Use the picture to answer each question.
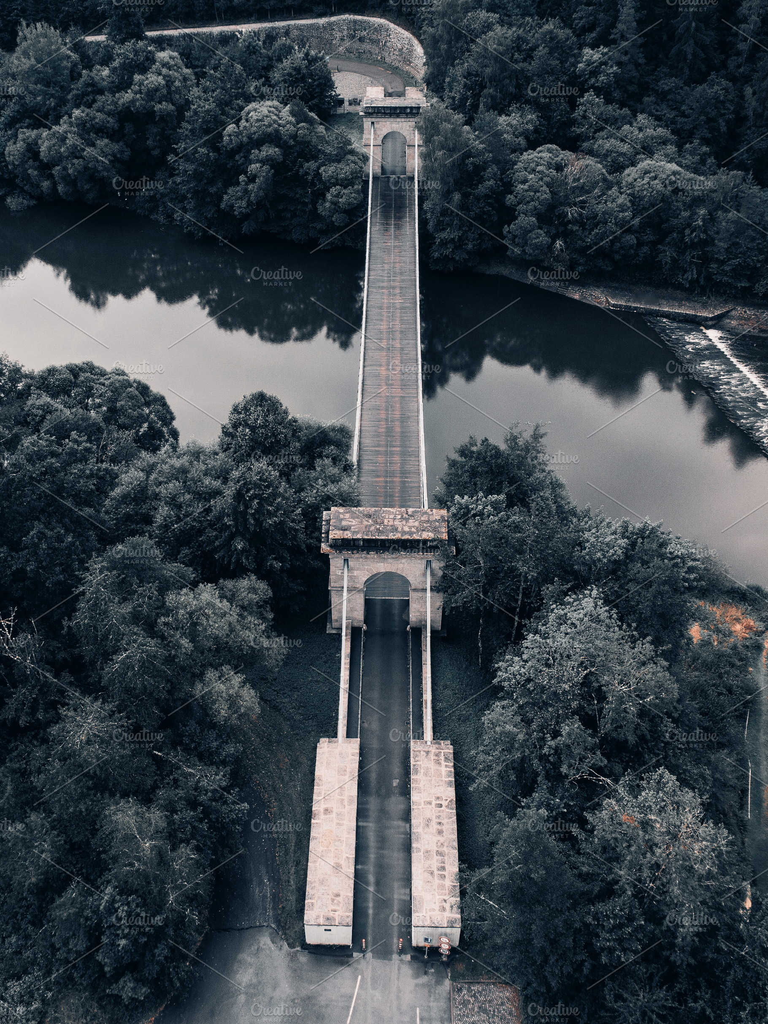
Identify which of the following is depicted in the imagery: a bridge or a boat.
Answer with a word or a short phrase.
bridge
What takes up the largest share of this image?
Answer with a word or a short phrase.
trees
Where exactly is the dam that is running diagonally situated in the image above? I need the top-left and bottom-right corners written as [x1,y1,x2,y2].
[643,314,768,457]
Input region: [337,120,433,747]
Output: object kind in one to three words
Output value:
bridge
